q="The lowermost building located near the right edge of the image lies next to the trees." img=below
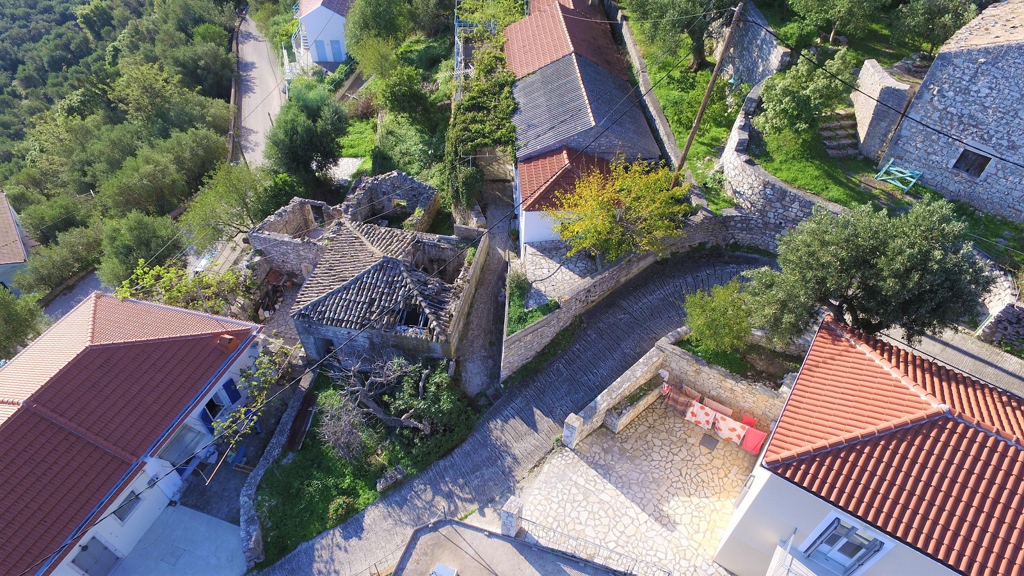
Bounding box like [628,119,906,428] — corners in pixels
[715,311,1024,576]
